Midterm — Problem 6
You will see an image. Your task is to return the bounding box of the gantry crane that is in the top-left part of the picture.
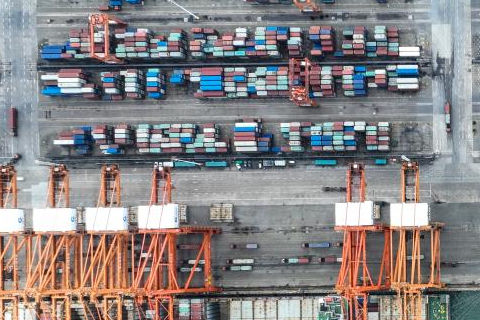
[89,14,127,63]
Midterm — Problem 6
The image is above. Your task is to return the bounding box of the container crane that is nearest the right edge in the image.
[388,159,445,320]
